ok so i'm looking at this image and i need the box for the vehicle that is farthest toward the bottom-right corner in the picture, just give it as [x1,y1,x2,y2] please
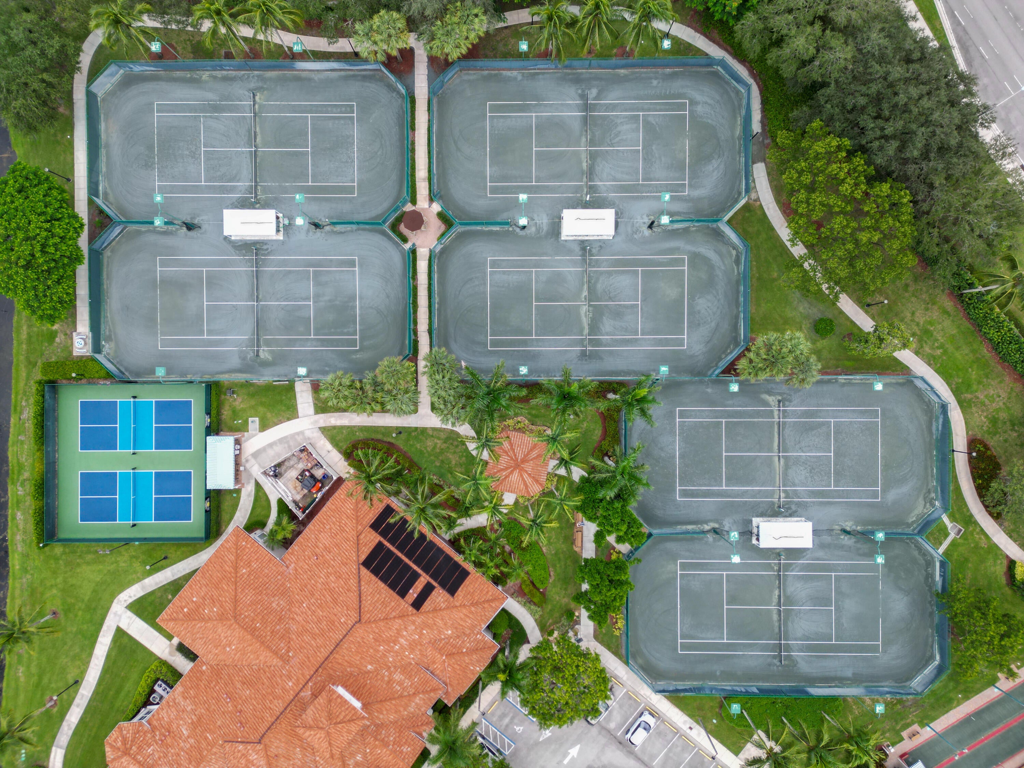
[624,711,656,748]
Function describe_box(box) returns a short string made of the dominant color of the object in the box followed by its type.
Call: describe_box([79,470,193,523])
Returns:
blue sports court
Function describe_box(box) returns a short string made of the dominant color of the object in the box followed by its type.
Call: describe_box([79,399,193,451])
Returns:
blue sports court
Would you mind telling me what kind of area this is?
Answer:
sports ground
